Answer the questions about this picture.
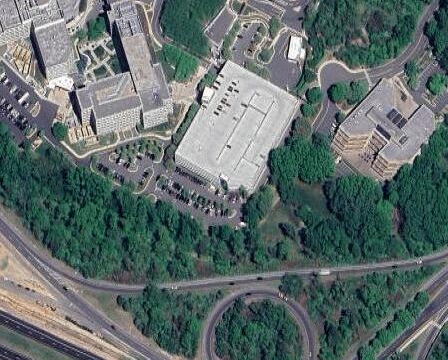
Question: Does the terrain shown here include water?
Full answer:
No, no water is visible.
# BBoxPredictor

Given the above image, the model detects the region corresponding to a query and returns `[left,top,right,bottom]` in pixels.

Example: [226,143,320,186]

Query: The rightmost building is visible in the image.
[335,78,439,177]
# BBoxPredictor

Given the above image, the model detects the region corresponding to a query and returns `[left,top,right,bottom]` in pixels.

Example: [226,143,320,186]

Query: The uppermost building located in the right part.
[289,35,304,61]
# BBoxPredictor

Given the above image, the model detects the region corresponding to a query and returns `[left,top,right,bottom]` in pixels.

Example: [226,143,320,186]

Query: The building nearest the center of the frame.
[176,61,300,195]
